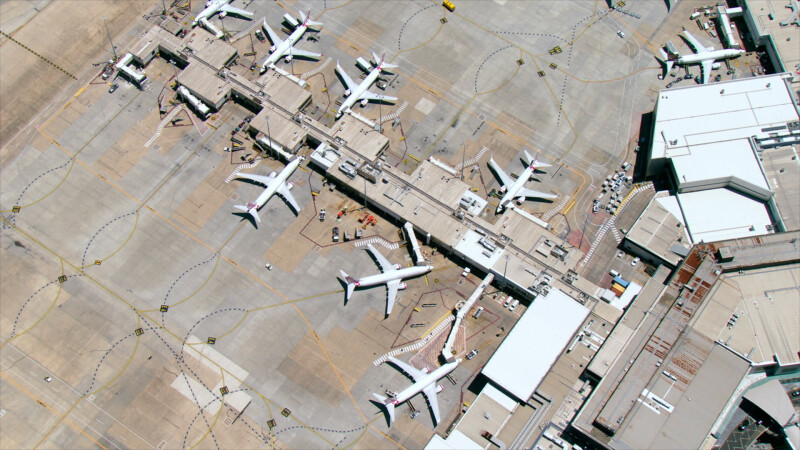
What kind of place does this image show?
airport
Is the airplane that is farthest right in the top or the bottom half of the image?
top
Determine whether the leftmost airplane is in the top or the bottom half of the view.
top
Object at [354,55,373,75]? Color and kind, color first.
white vehicle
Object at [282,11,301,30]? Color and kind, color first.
white vehicle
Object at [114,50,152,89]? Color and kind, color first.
white jet bridge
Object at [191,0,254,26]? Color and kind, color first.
white airplane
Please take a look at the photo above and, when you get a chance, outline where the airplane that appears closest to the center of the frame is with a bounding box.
[341,242,433,313]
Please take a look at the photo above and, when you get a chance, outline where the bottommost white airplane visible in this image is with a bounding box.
[374,356,461,423]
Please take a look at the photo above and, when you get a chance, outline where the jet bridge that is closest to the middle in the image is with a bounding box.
[405,222,426,271]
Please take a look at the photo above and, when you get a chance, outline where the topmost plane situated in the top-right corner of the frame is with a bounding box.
[663,27,744,83]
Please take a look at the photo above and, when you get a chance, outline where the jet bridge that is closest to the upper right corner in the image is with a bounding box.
[718,5,742,56]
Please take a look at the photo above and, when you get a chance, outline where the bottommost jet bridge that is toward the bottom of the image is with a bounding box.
[444,273,495,364]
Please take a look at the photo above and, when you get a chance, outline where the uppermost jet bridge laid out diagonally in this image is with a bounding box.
[192,14,226,44]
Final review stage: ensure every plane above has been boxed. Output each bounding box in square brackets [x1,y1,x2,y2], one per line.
[236,158,304,222]
[374,356,461,423]
[259,9,323,73]
[335,51,398,117]
[341,242,433,313]
[191,0,254,26]
[663,27,744,83]
[491,150,558,212]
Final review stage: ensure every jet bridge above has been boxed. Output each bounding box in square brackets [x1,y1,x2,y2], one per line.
[192,14,226,44]
[114,50,152,89]
[499,197,552,230]
[340,104,381,134]
[718,5,742,56]
[177,84,216,122]
[420,153,461,181]
[255,133,301,170]
[405,222,426,271]
[444,273,495,364]
[265,60,306,91]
